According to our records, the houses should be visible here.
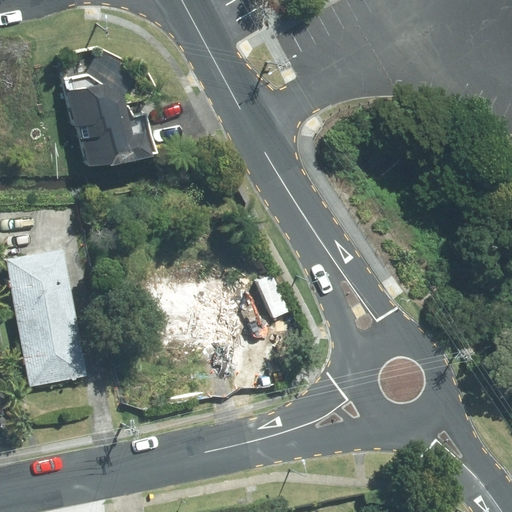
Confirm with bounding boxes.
[4,248,88,388]
[60,56,158,166]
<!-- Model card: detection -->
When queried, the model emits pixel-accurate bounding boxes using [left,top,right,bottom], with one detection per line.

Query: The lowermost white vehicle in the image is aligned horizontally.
[132,436,159,452]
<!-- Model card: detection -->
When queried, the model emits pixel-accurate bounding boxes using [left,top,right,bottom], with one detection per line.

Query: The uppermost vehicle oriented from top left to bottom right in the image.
[308,264,334,295]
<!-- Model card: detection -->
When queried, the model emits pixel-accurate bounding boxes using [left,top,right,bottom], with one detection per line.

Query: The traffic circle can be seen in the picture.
[378,356,426,404]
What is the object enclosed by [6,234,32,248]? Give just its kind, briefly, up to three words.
vehicle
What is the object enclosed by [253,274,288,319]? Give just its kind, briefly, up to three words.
building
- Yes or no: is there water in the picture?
No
